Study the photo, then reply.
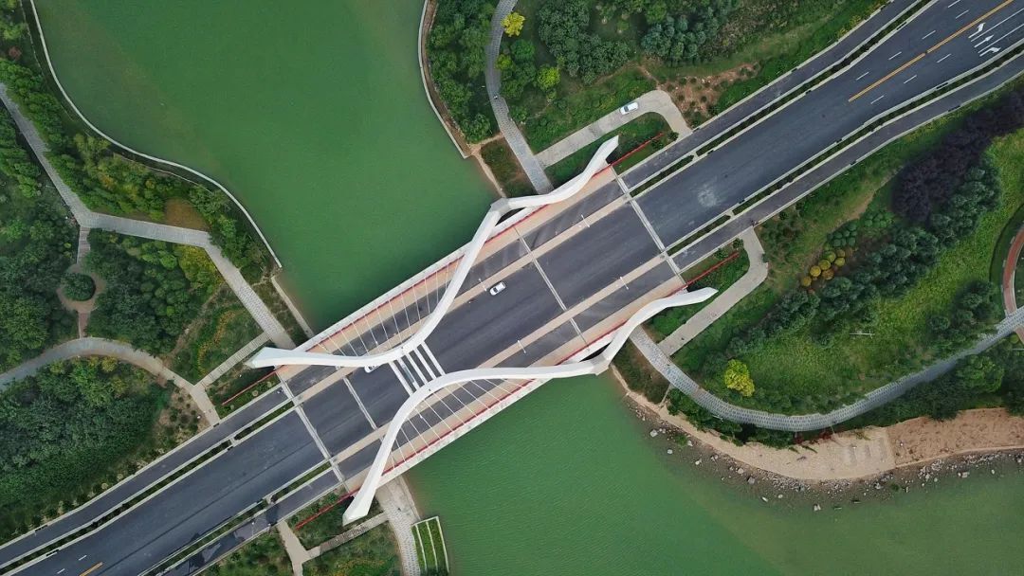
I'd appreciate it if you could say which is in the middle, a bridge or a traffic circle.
bridge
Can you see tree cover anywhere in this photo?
Yes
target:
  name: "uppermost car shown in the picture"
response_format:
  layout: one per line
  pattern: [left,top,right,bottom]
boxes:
[620,101,638,113]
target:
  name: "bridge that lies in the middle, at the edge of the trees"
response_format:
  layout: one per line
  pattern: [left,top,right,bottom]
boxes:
[220,131,739,529]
